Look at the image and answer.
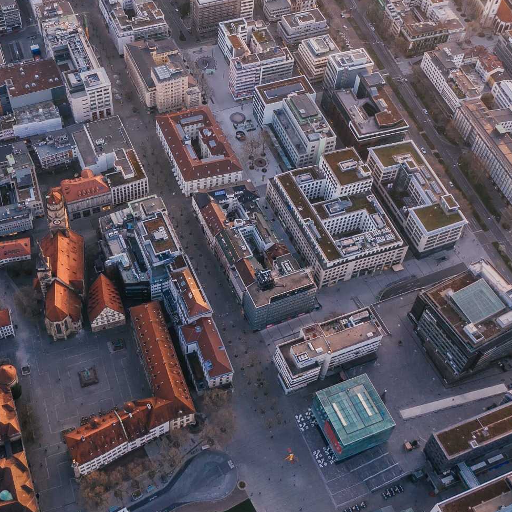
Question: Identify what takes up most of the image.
buildings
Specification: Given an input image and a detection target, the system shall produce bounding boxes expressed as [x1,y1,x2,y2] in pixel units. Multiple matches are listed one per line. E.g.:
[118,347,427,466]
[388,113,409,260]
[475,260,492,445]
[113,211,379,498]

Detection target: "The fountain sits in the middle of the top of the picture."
[194,56,217,70]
